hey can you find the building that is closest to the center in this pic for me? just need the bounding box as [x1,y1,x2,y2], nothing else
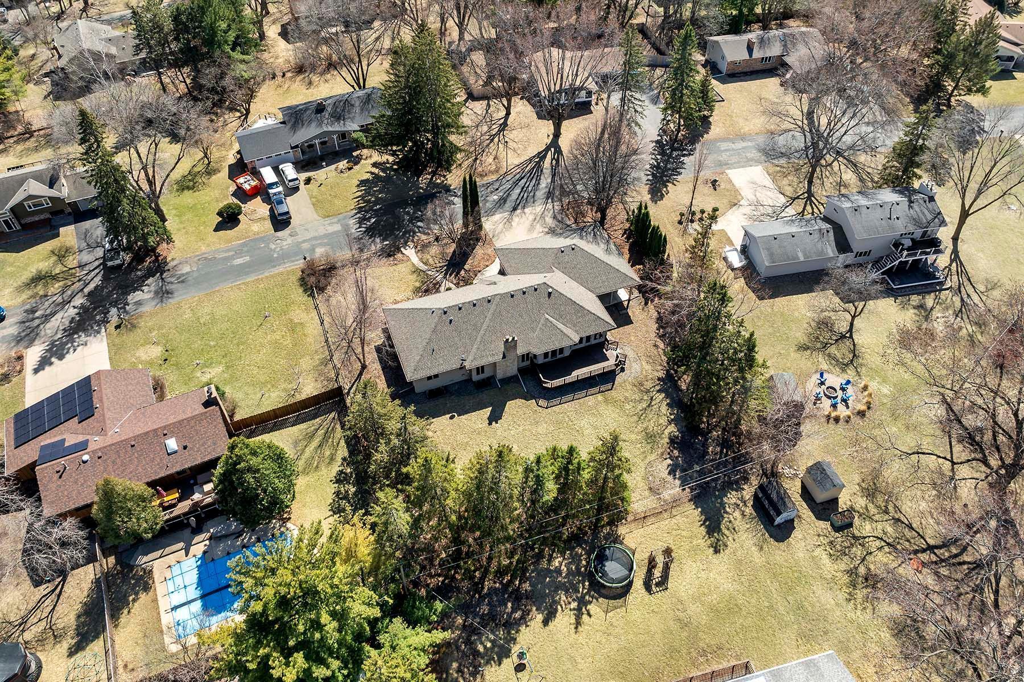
[382,222,643,404]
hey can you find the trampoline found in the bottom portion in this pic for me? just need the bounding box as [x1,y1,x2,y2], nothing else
[589,538,638,595]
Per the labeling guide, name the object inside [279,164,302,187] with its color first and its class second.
white car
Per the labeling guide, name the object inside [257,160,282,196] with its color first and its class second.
white vehicle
